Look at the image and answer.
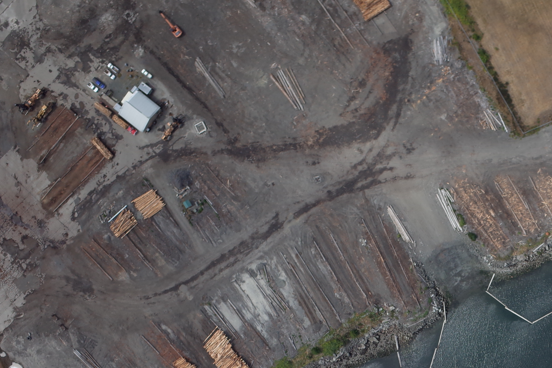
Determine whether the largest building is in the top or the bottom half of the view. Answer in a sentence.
The largest building sits in the top half of the picture.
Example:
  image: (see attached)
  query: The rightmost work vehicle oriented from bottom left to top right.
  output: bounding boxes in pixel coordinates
[163,114,185,139]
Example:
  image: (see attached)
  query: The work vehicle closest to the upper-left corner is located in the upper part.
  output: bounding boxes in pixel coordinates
[18,90,44,113]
